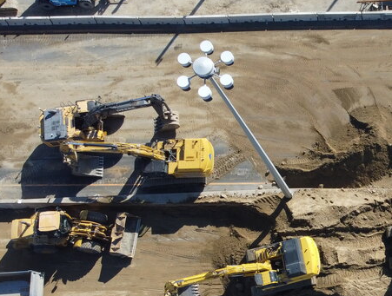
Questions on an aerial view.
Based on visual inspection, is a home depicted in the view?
No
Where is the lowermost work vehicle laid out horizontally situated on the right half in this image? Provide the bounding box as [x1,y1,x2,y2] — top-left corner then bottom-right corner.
[164,237,324,296]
